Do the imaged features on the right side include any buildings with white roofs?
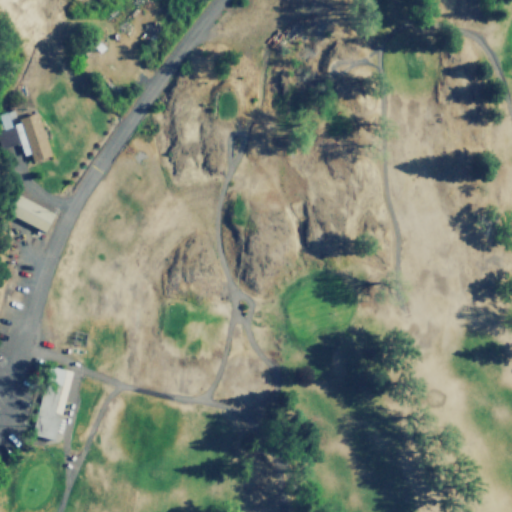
No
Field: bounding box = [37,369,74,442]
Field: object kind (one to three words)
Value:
building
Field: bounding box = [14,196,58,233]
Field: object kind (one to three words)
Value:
building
